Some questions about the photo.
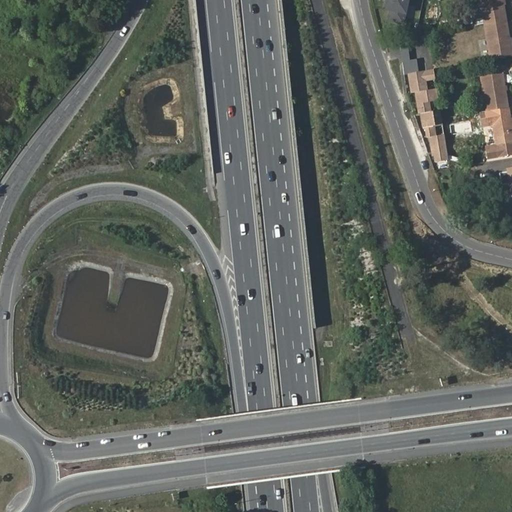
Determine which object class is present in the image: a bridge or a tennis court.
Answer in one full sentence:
It is a bridge that can be seen here.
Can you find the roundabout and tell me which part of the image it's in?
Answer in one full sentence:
The roundabout sits in the bottom left section of the image.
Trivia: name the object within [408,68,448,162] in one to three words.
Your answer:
house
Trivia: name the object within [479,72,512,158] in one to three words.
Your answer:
house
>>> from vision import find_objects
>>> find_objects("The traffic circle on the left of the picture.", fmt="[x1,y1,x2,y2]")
[0,372,86,512]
